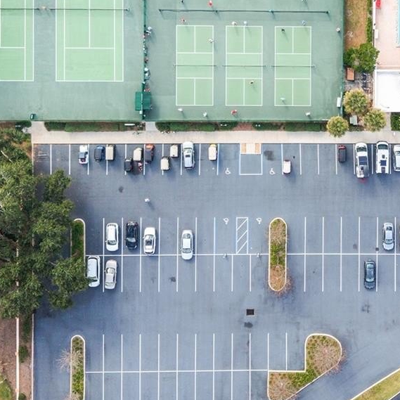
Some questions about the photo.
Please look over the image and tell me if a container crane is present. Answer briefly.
No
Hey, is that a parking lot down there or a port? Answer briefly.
parking lot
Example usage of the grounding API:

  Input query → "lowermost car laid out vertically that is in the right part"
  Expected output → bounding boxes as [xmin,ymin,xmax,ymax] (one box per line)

[364,259,376,288]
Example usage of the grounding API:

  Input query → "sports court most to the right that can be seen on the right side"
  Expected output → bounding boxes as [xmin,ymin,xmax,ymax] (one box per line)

[271,26,314,105]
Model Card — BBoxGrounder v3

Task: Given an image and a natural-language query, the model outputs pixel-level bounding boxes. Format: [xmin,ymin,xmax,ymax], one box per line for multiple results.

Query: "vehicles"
[144,145,155,163]
[104,259,119,289]
[79,147,89,167]
[180,230,193,259]
[354,141,369,181]
[180,140,195,170]
[160,157,170,174]
[337,146,345,163]
[392,144,400,170]
[95,145,105,163]
[209,145,218,162]
[105,146,115,162]
[170,144,179,160]
[143,226,157,255]
[382,222,395,251]
[364,259,376,288]
[133,146,143,164]
[284,158,290,174]
[104,222,120,252]
[87,256,101,286]
[124,157,134,174]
